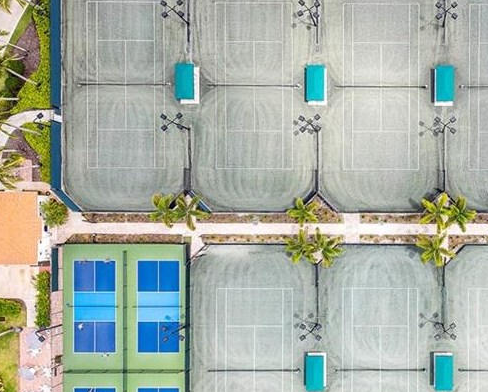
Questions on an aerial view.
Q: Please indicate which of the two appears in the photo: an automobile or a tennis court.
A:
tennis court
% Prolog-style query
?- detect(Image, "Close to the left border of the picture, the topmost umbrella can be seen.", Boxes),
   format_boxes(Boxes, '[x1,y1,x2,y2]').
[21,333,38,347]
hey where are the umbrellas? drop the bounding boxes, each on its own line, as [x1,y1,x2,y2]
[21,333,38,347]
[15,367,33,384]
